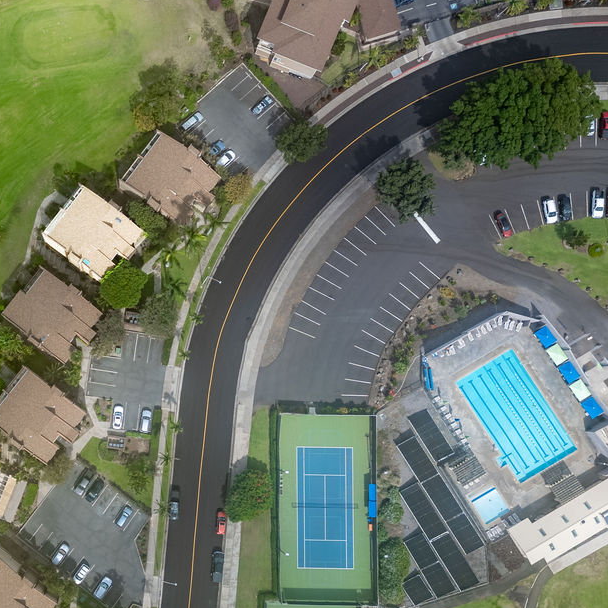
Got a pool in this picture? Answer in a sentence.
Yes, I can see a pool in this picture.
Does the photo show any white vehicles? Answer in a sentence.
Yes, looking at the shot, I can spot a white vehicle.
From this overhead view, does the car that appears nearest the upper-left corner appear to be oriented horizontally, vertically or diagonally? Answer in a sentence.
The car that appears nearest the upper-left corner is oriented diagonally.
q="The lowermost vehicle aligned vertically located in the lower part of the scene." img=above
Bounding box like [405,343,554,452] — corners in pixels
[210,551,223,581]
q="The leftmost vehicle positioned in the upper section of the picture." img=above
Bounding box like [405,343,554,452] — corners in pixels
[180,110,205,133]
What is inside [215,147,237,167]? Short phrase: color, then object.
white car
